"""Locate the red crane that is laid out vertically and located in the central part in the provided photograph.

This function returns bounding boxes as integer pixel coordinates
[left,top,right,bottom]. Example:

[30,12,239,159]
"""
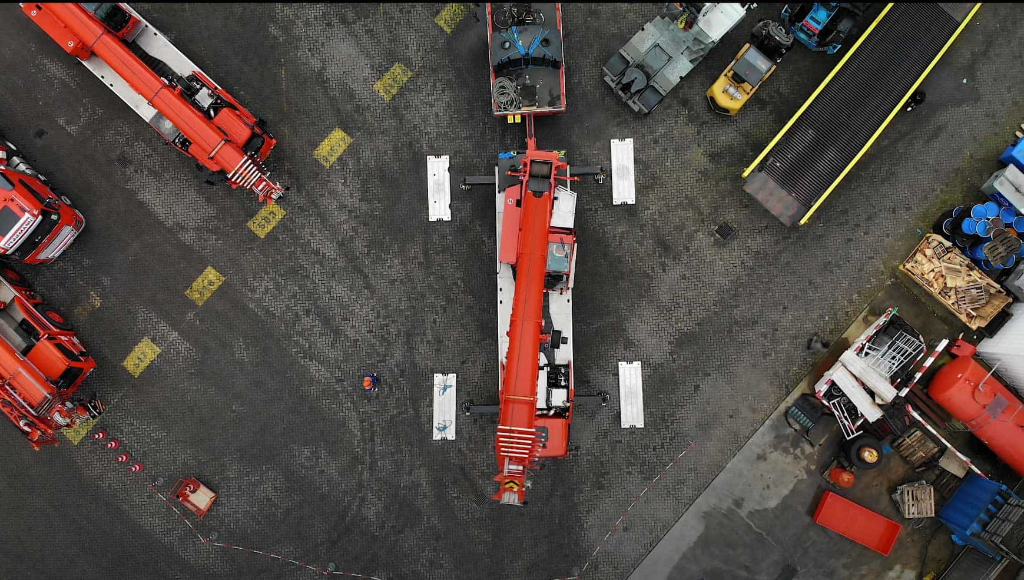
[459,150,610,507]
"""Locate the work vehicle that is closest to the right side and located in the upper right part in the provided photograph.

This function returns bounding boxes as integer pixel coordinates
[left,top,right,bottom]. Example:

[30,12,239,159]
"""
[777,0,871,59]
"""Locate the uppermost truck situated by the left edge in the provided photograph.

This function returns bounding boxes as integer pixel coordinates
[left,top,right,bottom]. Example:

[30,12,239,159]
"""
[0,140,90,265]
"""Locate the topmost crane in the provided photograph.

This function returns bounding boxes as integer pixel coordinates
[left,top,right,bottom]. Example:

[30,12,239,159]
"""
[16,0,291,207]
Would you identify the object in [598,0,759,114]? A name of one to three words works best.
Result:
truck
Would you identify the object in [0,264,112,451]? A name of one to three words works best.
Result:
crane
